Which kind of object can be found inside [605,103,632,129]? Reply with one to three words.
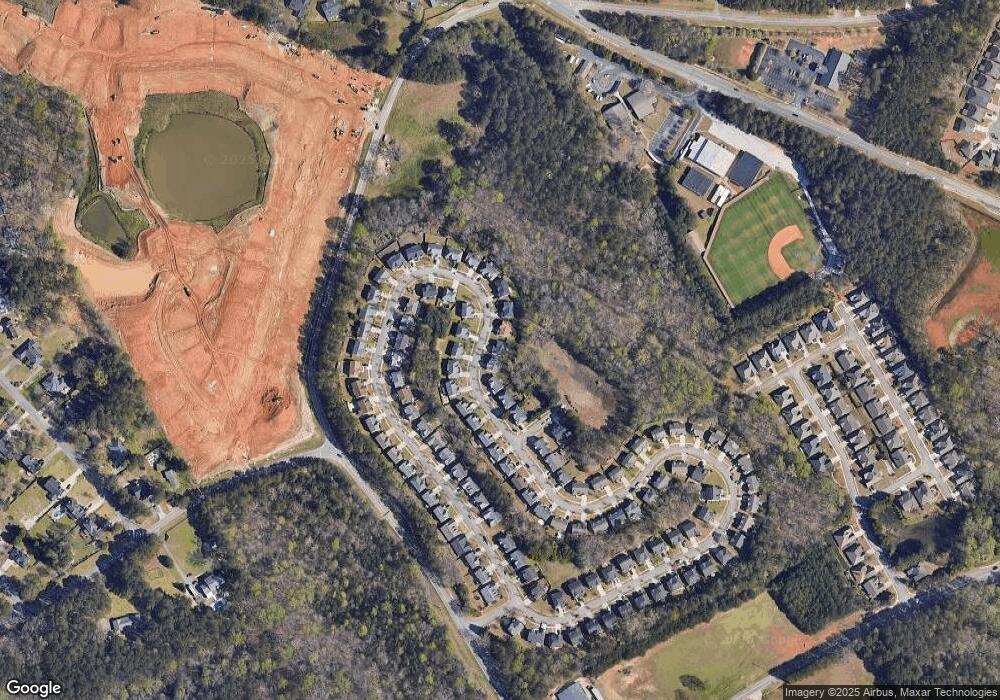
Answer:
building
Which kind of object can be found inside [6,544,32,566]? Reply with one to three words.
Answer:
house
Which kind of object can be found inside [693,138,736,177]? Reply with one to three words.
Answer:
building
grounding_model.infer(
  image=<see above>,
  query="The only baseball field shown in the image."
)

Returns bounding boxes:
[704,172,826,308]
